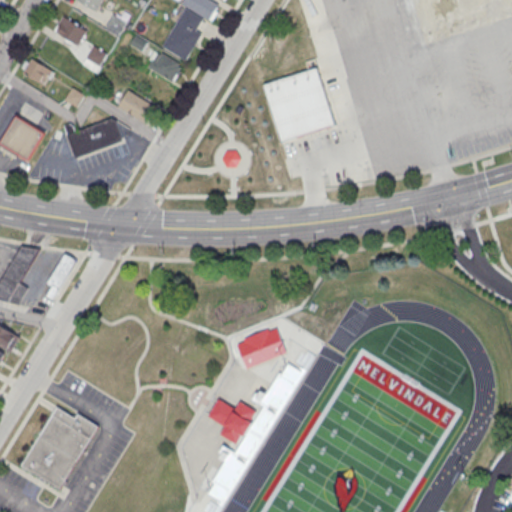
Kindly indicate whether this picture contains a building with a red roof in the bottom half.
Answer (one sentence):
Yes, a building with a red roof appears in the bottom half.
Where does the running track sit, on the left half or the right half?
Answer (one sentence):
The running track sits on the right side.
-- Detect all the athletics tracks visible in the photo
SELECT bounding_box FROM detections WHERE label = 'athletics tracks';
[224,300,496,512]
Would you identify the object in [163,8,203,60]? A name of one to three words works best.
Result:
house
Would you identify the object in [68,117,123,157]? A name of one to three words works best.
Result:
building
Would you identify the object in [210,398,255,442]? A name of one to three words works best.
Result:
building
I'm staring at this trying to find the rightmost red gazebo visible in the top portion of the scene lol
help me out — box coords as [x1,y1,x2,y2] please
[223,150,242,166]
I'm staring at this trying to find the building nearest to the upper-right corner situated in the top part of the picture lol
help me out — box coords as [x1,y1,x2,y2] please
[264,68,335,141]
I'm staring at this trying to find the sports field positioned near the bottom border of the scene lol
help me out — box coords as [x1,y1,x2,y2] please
[249,322,474,512]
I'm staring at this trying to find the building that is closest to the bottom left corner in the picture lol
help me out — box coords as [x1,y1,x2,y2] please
[22,408,100,490]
